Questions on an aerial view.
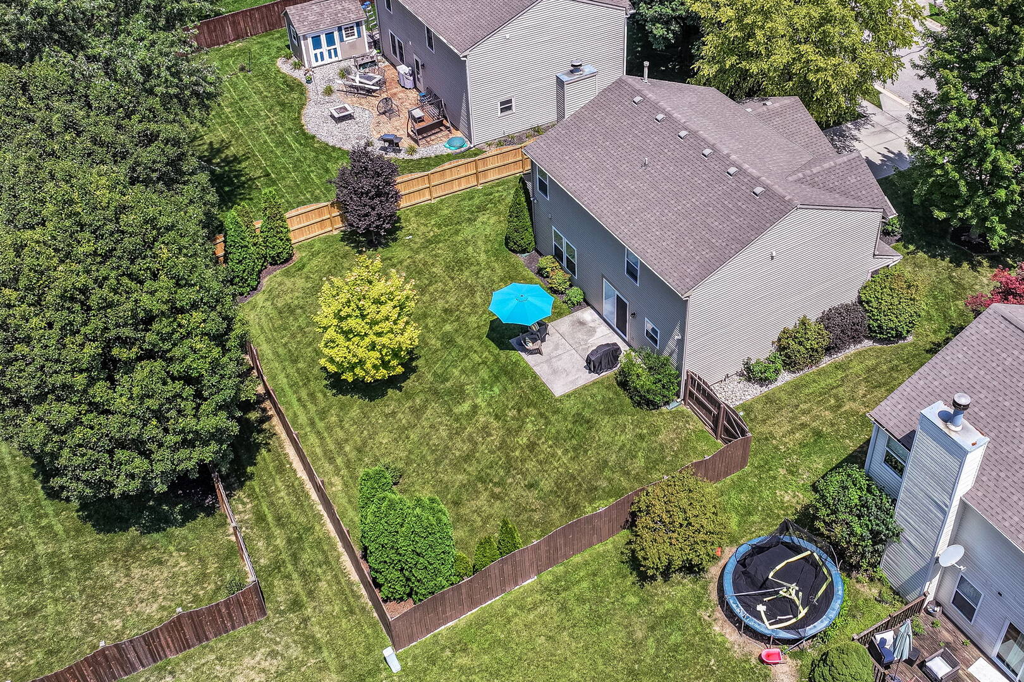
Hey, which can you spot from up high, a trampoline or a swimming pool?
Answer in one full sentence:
I can see a trampoline in this picture.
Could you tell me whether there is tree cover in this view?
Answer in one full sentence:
Yes, there's tree cover in this view.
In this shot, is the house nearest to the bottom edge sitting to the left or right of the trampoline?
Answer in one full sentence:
Compared with the trampoline, the house nearest to the bottom edge is located further to the right.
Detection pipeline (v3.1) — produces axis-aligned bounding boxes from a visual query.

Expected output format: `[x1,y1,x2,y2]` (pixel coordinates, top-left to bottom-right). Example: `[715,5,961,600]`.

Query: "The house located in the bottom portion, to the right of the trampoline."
[858,303,1024,682]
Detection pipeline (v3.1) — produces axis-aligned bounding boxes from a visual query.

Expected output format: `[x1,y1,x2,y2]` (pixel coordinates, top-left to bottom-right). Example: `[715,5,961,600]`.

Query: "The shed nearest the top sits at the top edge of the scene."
[279,0,368,69]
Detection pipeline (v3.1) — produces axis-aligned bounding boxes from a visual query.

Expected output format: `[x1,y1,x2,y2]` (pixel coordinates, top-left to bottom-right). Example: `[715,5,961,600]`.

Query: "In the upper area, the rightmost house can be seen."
[520,61,905,401]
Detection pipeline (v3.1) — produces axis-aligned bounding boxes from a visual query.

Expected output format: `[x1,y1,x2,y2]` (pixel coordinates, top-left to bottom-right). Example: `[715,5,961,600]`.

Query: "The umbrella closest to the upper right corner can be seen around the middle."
[486,281,557,345]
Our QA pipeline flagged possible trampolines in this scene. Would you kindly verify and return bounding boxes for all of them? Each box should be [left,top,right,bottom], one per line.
[719,519,843,666]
